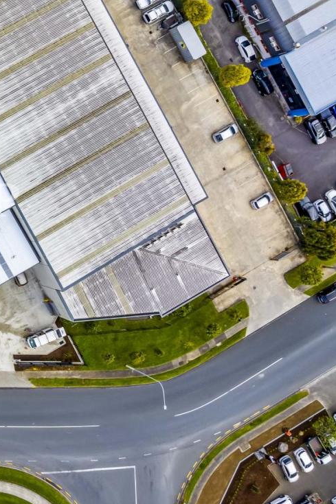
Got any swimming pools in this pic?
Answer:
No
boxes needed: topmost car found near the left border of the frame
[15,270,30,287]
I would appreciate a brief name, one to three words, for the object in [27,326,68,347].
truck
